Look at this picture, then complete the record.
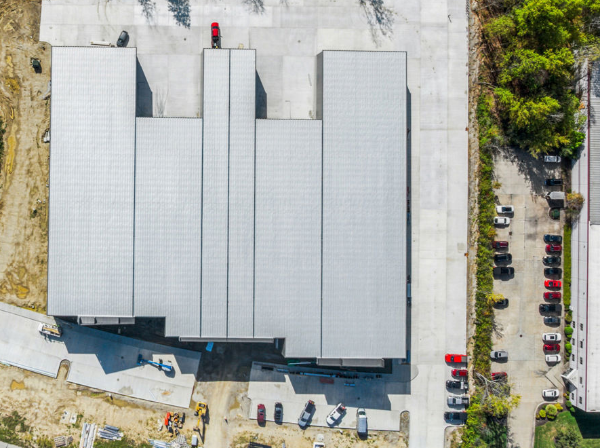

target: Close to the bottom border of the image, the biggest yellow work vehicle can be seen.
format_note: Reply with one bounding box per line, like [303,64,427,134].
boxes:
[193,403,207,437]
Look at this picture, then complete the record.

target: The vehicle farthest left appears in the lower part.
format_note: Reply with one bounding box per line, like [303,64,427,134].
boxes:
[39,324,61,337]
